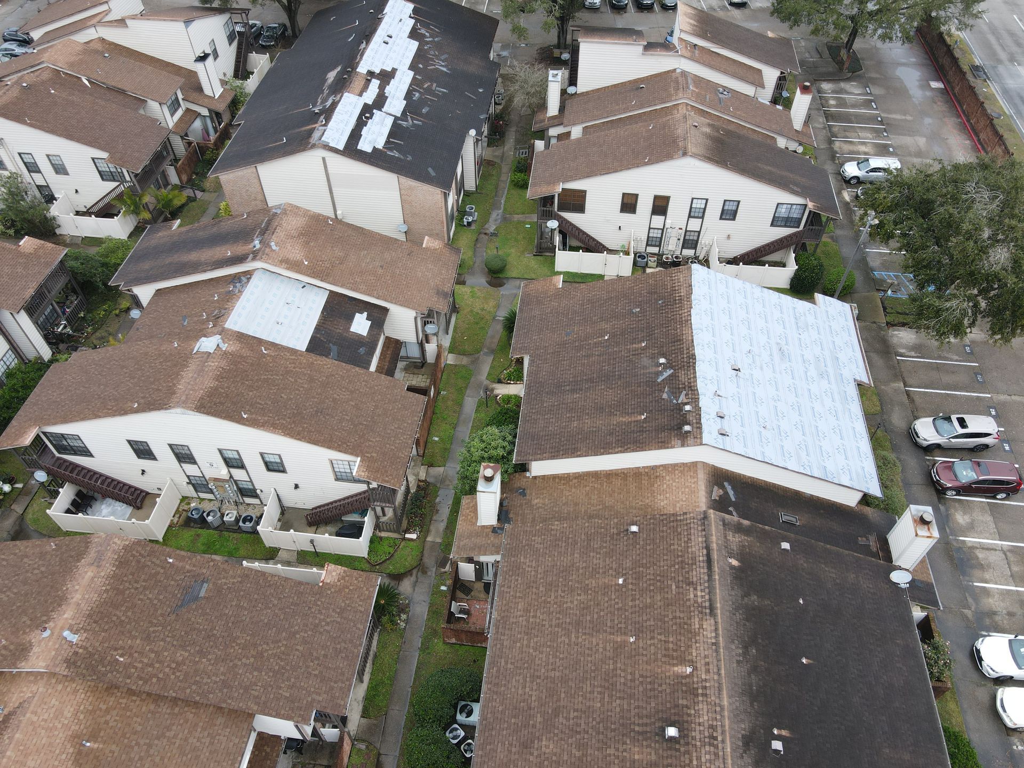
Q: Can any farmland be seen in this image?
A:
No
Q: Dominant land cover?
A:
buildings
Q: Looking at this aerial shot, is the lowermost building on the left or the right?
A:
left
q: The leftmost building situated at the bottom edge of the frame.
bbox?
[0,535,399,768]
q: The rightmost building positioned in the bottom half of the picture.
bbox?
[442,264,956,768]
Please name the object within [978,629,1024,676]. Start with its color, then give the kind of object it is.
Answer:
white car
